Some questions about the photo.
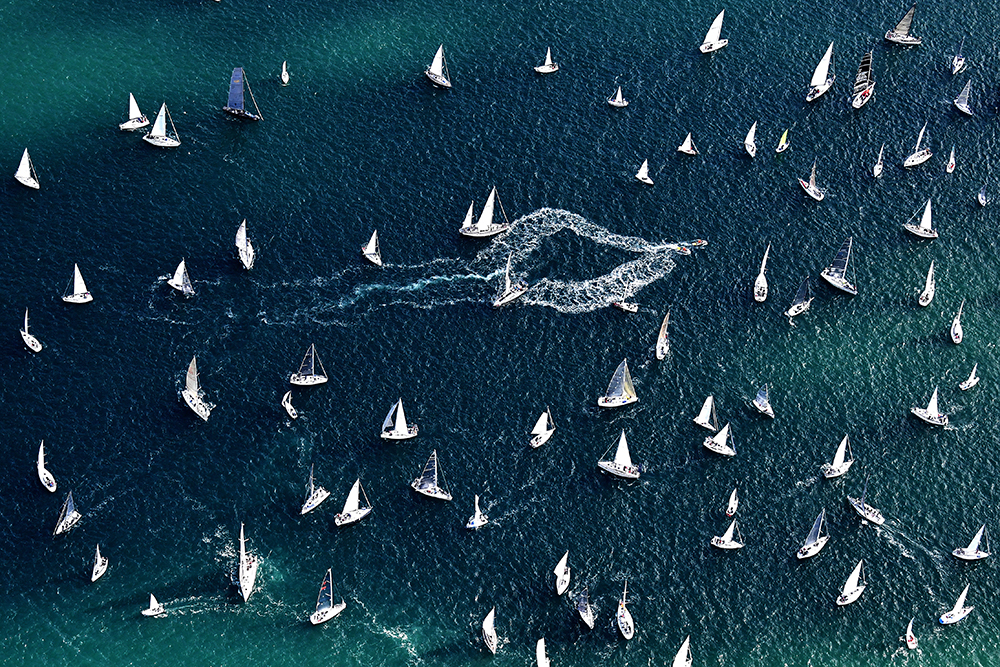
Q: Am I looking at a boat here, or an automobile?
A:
boat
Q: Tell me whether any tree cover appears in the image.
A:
No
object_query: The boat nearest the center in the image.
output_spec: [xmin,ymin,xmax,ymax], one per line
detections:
[493,254,534,309]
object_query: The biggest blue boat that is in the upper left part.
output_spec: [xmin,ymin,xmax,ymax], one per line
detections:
[222,65,263,123]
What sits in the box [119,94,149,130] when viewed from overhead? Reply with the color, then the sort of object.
white boat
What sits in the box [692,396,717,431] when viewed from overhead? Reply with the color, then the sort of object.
white boat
